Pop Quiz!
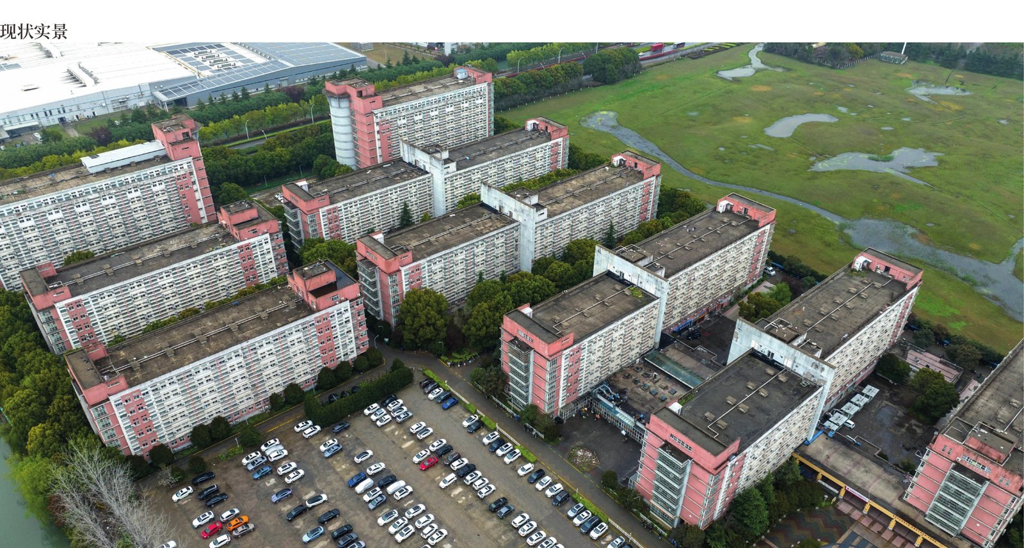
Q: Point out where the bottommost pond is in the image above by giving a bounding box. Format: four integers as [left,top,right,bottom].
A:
[809,147,943,187]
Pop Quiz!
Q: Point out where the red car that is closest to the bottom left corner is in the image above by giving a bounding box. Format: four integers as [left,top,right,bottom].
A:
[200,522,224,539]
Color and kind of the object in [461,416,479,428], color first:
white vehicle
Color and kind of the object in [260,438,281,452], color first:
white car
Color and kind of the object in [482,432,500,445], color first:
white vehicle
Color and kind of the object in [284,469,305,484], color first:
white car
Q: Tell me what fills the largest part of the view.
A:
buildings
